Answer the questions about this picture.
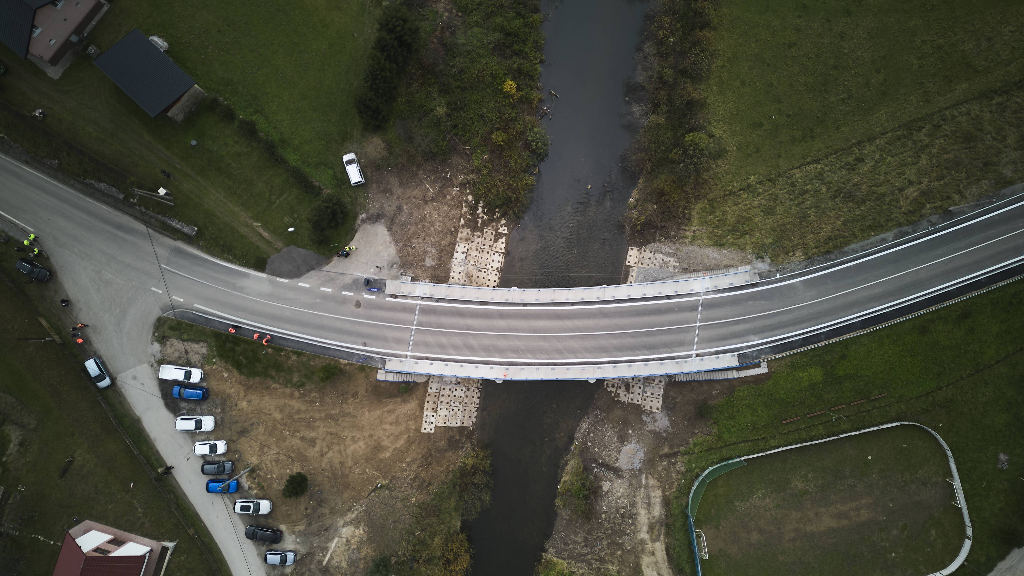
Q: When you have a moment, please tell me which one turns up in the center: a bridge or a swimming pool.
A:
bridge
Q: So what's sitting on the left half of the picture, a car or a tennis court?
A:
car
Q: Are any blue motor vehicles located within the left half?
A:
Yes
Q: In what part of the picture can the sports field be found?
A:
bottom right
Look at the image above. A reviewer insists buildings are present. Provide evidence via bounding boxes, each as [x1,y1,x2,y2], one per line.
[0,0,107,67]
[93,28,203,119]
[53,530,151,576]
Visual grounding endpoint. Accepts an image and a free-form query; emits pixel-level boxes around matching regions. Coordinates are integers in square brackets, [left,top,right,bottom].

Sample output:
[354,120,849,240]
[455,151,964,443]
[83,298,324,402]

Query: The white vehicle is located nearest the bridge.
[341,149,364,189]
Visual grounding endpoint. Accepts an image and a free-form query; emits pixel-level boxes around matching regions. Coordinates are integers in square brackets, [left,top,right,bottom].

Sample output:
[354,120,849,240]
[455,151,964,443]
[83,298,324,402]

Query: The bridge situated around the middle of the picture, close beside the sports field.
[383,269,766,384]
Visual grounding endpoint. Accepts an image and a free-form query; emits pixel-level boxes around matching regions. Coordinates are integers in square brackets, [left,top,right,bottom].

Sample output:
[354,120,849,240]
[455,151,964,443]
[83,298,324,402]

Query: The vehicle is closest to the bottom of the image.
[261,550,296,570]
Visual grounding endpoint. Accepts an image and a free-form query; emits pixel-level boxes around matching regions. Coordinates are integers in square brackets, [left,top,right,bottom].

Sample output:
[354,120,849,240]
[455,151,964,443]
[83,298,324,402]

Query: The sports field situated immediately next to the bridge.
[686,421,979,576]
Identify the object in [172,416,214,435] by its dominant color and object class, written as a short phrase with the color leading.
white car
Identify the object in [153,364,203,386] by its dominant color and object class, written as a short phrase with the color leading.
white truck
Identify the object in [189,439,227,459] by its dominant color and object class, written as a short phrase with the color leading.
white car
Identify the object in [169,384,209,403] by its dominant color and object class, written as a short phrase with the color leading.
blue car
